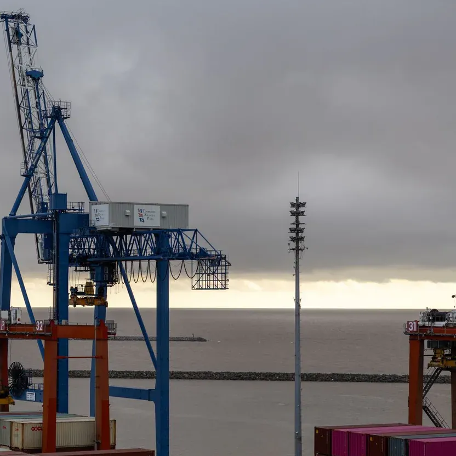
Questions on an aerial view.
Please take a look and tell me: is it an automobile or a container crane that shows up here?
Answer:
container crane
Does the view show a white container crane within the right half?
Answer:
No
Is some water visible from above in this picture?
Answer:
Yes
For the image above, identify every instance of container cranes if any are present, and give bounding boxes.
[0,11,228,456]
[0,303,125,453]
[394,302,456,430]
